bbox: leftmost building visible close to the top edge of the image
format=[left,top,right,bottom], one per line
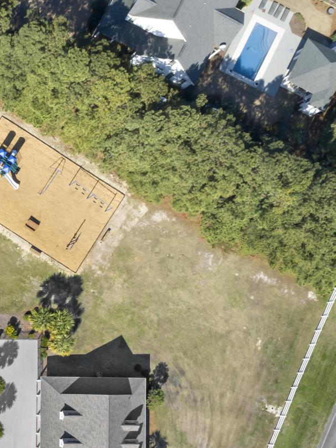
[92,0,251,91]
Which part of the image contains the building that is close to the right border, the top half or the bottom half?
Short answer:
top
